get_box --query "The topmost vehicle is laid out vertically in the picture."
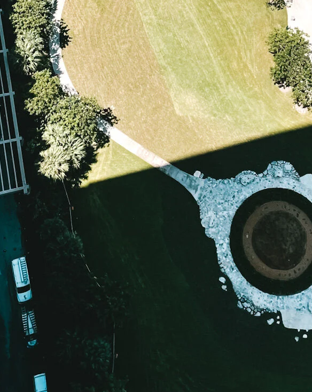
[10,255,33,308]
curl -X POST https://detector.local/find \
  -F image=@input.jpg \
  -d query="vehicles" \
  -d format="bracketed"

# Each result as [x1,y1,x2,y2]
[17,310,41,356]
[31,369,49,392]
[10,255,33,308]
